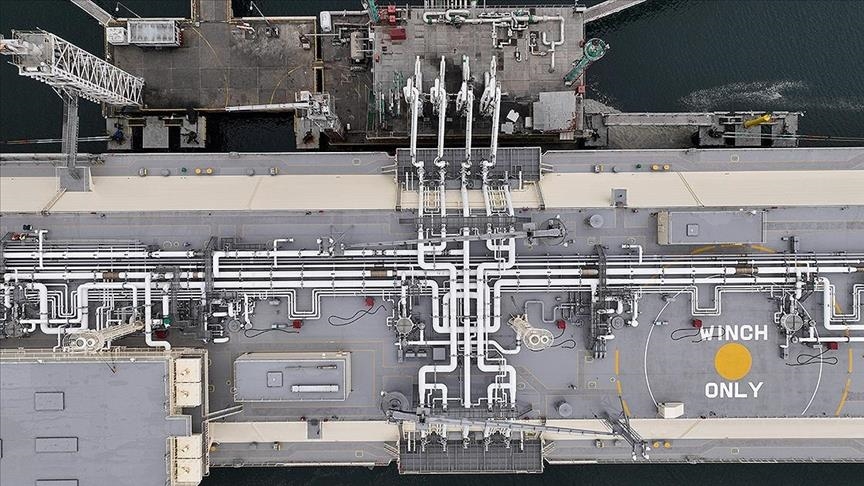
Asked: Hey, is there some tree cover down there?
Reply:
No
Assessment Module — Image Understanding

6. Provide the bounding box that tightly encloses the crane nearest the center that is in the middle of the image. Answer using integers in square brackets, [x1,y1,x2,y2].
[345,219,568,248]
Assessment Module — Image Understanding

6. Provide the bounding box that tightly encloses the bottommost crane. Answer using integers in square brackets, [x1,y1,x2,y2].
[381,392,623,436]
